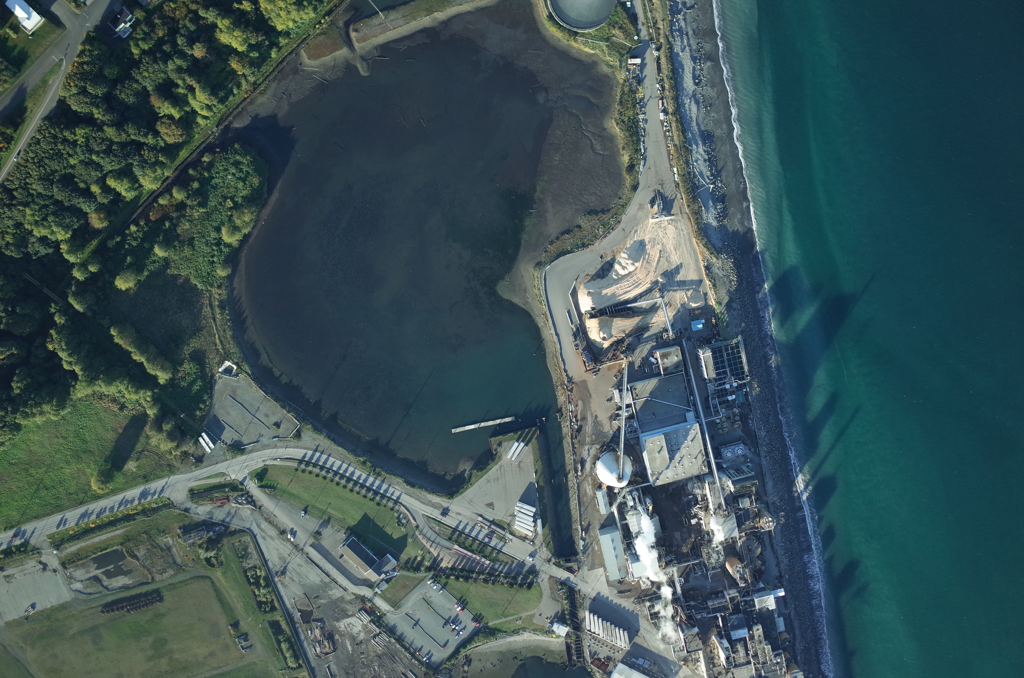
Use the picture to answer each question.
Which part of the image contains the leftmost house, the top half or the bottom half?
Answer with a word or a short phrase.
top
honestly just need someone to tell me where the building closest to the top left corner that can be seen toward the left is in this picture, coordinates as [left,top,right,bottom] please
[6,0,48,35]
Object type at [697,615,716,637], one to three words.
building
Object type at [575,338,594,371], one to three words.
vehicle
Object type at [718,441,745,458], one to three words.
cooling tower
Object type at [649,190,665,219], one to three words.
vehicle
